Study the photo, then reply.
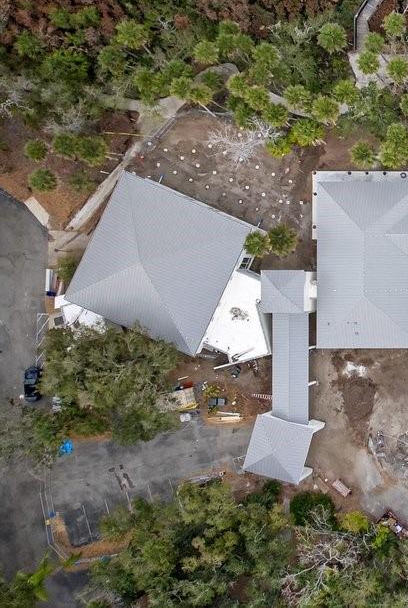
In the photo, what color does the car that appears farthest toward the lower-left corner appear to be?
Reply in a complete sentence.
The color of the car that appears farthest toward the lower-left corner is black.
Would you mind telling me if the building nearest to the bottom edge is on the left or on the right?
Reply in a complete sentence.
The building nearest to the bottom edge appears in the right half of the scene.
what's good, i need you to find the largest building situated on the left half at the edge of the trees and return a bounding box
[64,171,260,356]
